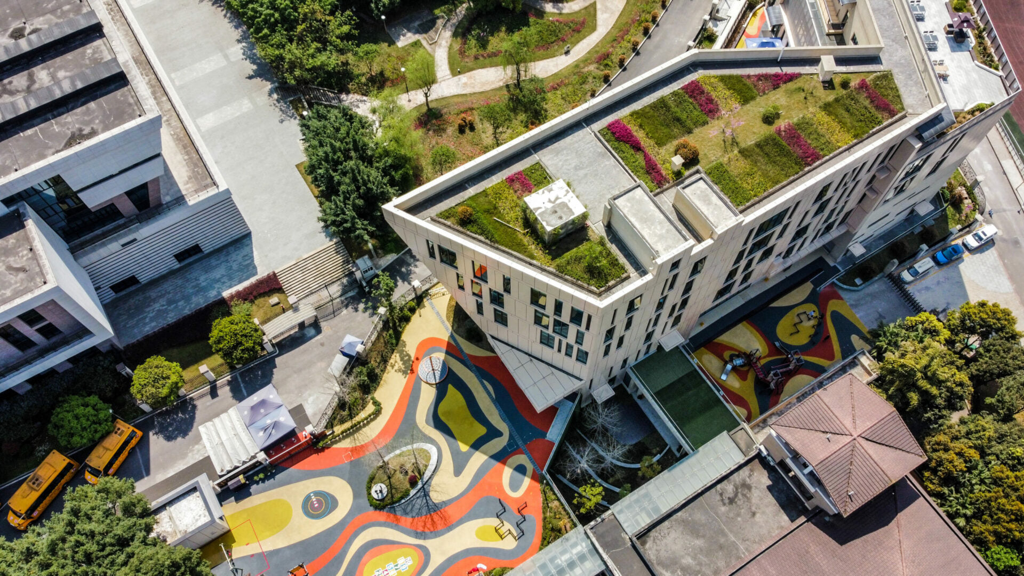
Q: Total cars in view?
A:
3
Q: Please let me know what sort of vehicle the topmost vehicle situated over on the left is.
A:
bus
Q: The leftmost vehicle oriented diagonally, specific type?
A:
bus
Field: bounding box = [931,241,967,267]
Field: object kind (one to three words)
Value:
car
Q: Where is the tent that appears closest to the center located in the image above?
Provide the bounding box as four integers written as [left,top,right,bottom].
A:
[339,335,368,367]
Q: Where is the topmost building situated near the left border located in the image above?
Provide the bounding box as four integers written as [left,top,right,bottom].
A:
[0,0,259,312]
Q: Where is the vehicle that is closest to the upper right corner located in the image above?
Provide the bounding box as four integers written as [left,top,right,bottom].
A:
[961,221,1001,251]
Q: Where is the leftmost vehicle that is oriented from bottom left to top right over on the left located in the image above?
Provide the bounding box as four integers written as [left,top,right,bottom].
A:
[4,452,84,530]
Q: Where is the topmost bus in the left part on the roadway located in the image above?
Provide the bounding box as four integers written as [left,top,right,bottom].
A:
[80,422,145,486]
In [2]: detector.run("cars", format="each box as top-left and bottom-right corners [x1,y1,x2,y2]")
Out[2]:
[961,221,1001,251]
[931,241,967,267]
[897,253,938,285]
